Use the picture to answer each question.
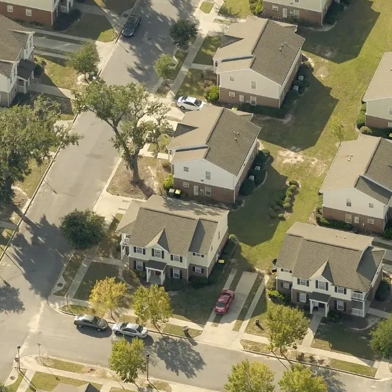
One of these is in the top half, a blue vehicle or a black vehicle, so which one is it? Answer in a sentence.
What appears in the top half is a black vehicle.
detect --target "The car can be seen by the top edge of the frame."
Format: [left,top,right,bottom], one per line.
[122,14,140,37]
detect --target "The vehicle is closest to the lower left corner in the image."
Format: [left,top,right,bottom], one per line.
[74,315,108,333]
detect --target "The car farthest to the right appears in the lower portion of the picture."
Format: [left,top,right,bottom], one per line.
[215,291,235,315]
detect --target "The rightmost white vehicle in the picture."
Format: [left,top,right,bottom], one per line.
[173,95,208,112]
